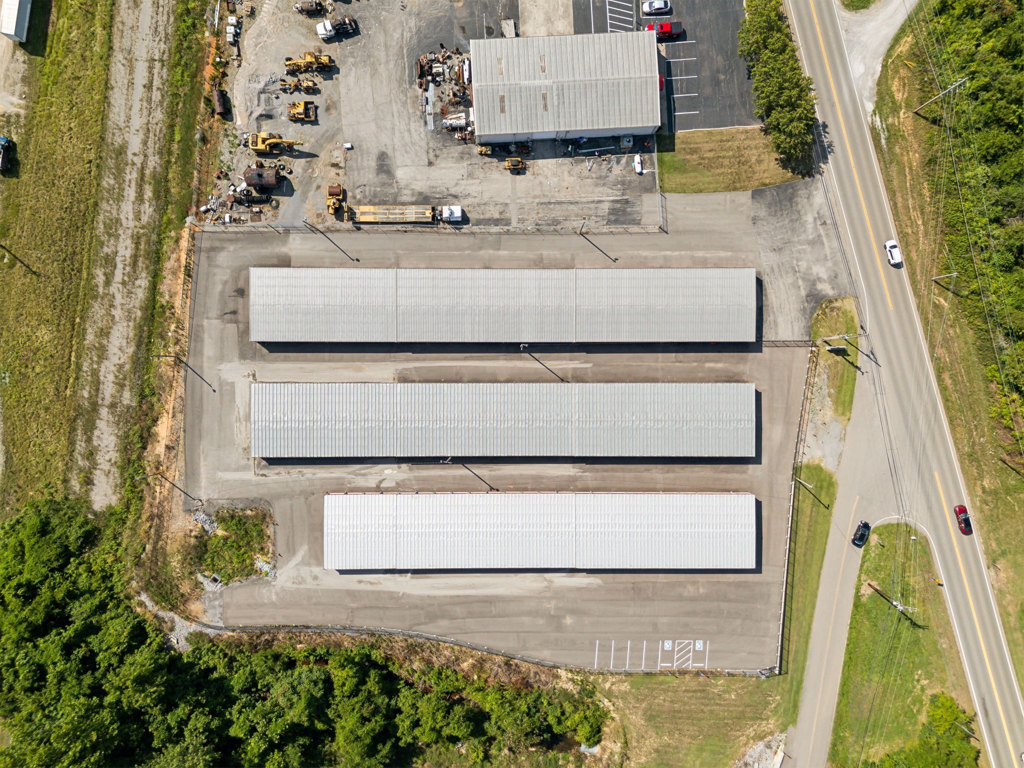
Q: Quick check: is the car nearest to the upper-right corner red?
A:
No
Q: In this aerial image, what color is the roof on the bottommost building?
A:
white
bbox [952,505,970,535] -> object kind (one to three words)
car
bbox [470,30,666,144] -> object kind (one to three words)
building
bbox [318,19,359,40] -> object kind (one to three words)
truck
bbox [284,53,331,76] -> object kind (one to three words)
work vehicle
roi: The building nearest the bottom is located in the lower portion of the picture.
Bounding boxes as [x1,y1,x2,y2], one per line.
[324,491,756,570]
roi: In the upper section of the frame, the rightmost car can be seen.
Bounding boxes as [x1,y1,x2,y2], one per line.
[883,239,903,268]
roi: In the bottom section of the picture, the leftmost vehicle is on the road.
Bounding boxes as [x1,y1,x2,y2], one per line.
[851,519,869,548]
